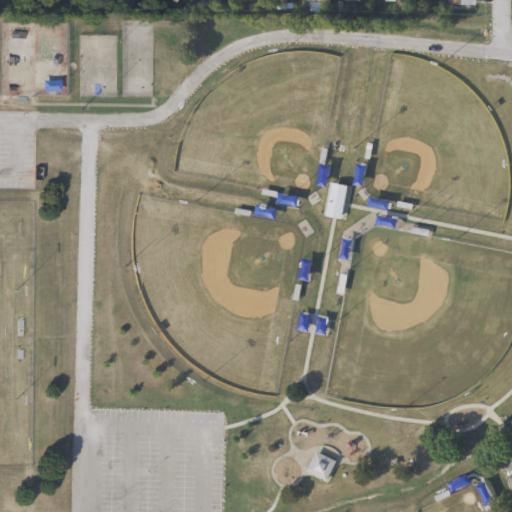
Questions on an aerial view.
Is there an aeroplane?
No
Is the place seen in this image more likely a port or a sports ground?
sports ground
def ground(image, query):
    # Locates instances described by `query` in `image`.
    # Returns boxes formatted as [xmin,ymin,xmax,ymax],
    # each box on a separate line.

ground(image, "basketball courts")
[122,21,154,97]
[80,36,118,97]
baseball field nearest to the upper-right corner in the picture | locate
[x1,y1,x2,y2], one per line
[362,53,510,222]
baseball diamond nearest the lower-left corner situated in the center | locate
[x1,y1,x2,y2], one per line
[134,193,303,395]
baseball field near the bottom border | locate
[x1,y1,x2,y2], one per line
[411,485,486,512]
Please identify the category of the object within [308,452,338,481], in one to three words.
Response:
building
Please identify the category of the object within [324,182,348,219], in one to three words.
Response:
building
